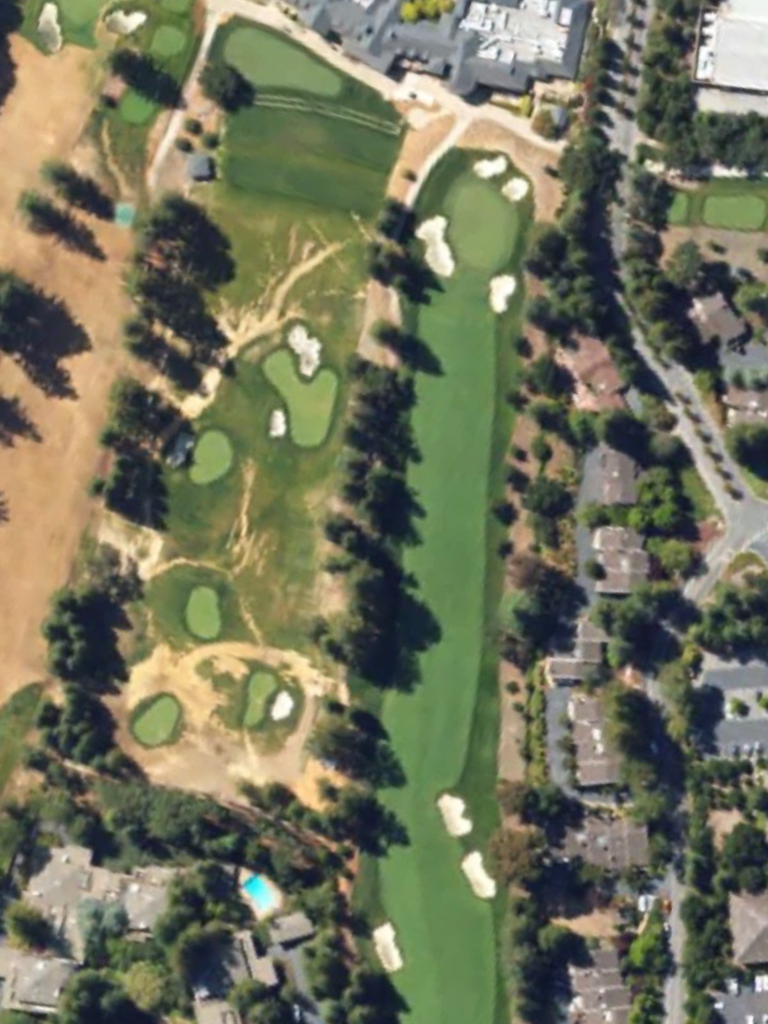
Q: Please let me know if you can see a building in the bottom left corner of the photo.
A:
Yes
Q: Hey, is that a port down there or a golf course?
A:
golf course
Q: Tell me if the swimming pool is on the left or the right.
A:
left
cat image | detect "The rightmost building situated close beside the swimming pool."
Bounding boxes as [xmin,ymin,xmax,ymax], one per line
[271,912,312,943]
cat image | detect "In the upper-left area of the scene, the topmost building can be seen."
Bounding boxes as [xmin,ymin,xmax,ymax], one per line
[189,154,214,178]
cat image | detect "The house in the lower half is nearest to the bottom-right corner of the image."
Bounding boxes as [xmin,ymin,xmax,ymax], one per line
[731,892,768,969]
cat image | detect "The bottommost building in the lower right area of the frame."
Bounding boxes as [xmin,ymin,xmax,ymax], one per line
[568,946,633,1024]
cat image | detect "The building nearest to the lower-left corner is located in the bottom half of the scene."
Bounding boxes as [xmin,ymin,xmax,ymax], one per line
[0,950,77,1013]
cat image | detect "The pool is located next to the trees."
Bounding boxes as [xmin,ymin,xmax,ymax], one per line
[236,865,282,923]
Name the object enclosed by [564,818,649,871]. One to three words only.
house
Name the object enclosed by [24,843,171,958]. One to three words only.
house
